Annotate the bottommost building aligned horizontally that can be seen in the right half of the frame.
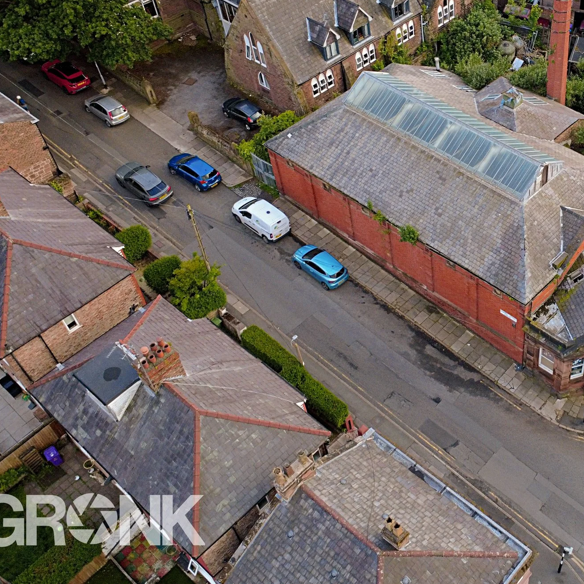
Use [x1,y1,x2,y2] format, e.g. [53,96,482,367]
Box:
[214,421,552,584]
